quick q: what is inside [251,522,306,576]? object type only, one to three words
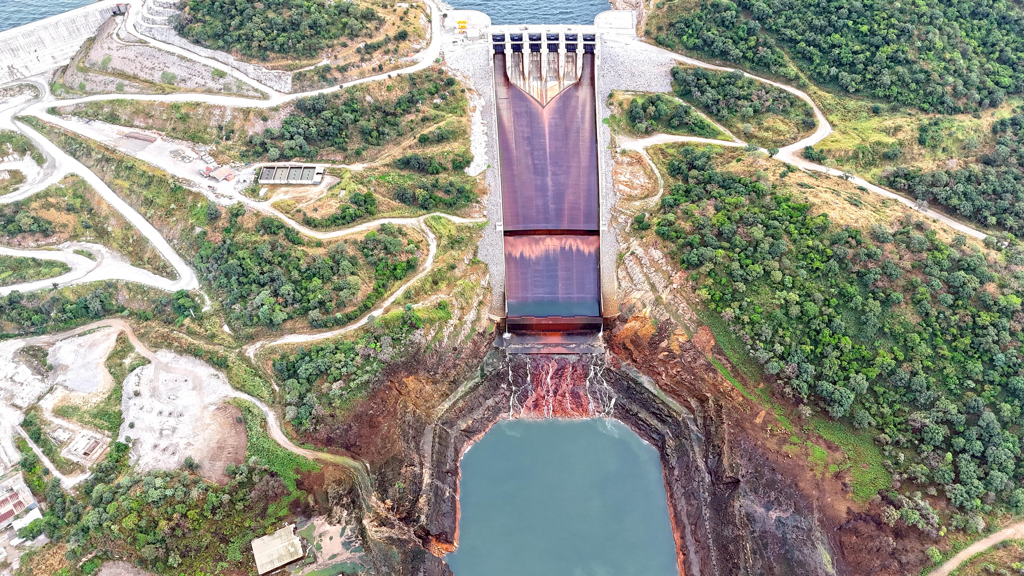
shed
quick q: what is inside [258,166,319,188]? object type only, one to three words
water tank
